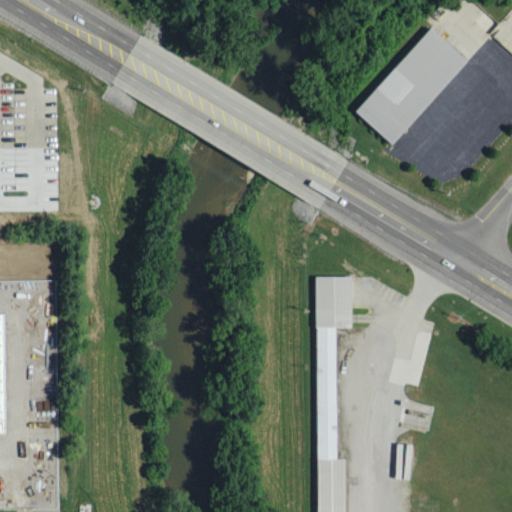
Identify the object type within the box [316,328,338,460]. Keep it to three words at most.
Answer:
barn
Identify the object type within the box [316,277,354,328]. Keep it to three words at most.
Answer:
barn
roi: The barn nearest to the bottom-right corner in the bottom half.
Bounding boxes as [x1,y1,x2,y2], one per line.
[317,460,347,512]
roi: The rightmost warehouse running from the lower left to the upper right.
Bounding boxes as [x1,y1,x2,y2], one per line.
[356,27,468,144]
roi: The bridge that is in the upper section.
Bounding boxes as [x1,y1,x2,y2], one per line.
[112,36,349,209]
